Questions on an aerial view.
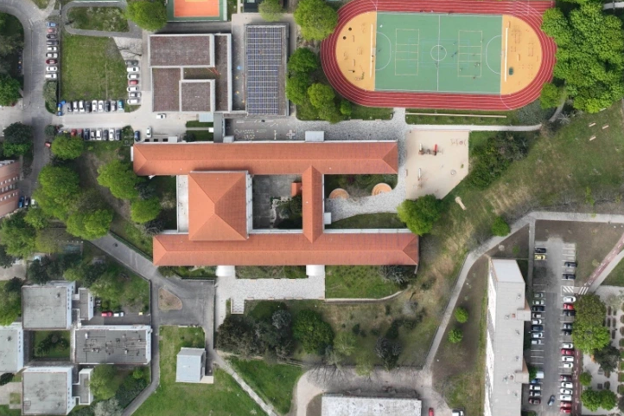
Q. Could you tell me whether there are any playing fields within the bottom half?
No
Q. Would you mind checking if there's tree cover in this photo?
Yes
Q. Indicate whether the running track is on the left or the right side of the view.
right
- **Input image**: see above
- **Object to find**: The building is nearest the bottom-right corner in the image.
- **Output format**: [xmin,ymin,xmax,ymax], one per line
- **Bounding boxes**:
[482,260,531,416]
